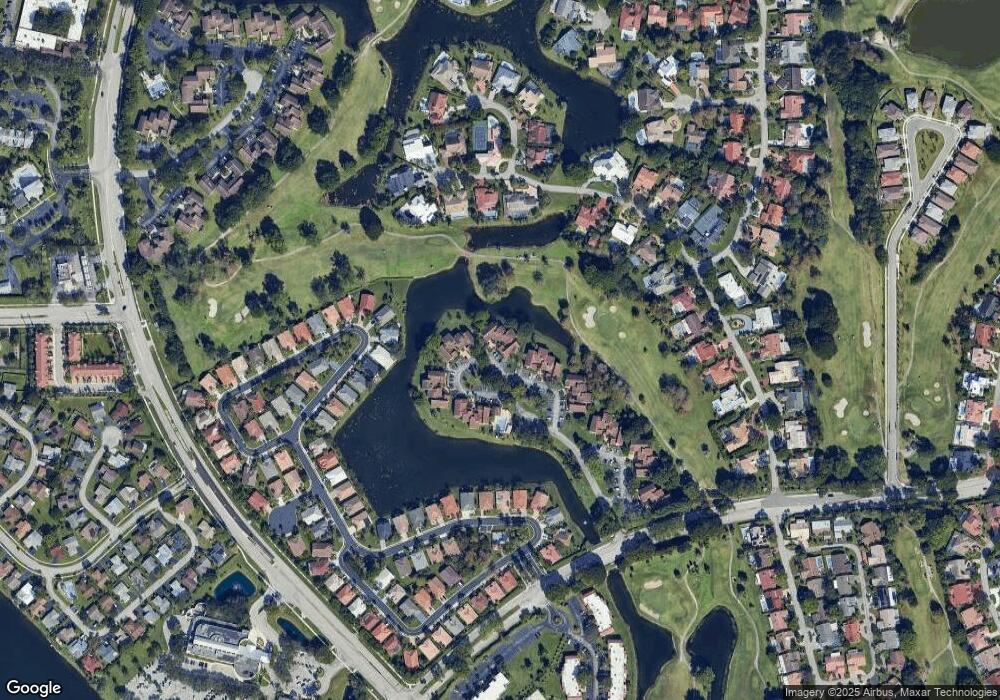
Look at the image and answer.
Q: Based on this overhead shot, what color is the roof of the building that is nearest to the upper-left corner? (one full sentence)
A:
From above, the roof of the building that is nearest to the upper-left corner looks white.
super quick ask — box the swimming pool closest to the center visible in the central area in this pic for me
[495,409,510,433]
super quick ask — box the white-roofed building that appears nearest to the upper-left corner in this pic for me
[15,0,89,57]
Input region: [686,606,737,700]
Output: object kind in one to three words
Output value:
pond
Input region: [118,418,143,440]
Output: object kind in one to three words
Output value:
house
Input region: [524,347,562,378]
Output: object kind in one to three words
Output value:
building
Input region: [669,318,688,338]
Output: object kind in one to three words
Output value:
swimming pool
